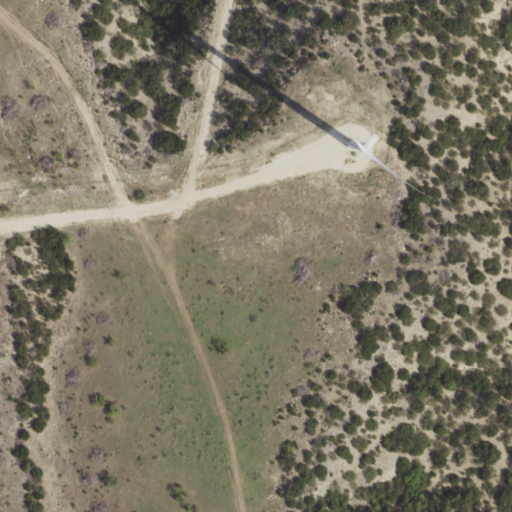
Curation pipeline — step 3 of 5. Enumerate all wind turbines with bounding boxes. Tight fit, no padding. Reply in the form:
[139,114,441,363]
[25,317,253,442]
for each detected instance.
[315,114,438,199]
